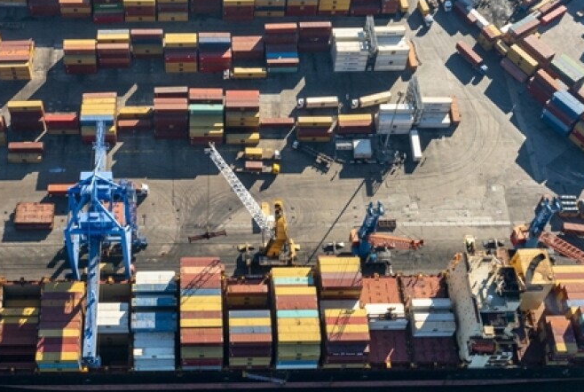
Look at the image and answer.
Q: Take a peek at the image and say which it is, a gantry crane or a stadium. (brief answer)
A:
gantry crane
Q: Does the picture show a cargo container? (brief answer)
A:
Yes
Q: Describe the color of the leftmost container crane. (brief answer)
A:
blue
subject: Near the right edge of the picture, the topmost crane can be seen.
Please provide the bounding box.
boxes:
[491,194,584,261]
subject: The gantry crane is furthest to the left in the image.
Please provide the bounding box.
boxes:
[59,113,144,375]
